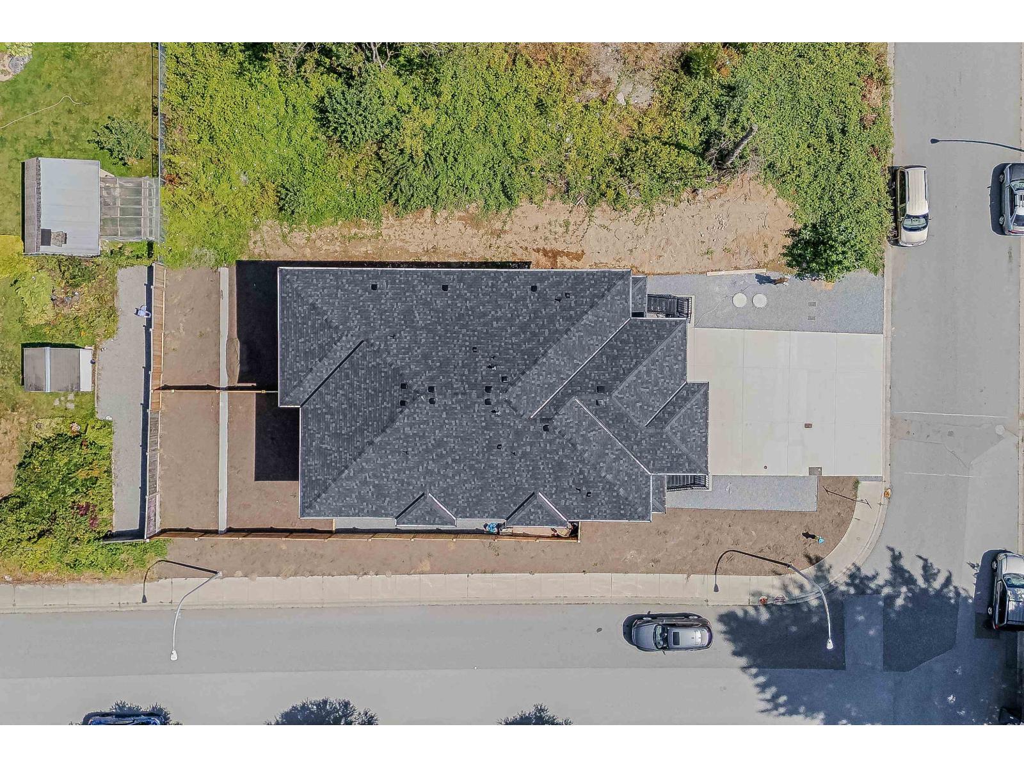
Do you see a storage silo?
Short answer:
No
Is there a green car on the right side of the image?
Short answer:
No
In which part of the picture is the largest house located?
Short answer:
center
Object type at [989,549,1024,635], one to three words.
car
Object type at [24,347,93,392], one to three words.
shed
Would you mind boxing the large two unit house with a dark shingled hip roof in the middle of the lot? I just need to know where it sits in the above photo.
[276,264,711,530]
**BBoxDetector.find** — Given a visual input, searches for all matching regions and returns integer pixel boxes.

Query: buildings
[24,347,93,392]
[276,264,711,530]
[24,155,114,260]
